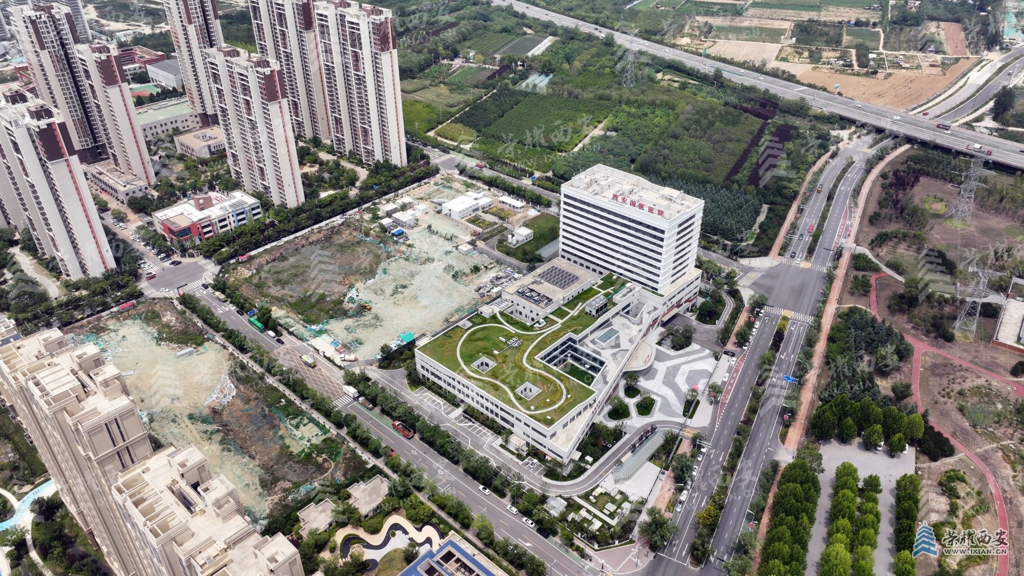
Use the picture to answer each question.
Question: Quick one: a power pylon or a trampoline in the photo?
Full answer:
The image shows a power pylon.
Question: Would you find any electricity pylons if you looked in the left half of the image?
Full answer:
No, in the left half of the image there is no electricity pylon.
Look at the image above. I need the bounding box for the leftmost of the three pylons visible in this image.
[624,30,637,80]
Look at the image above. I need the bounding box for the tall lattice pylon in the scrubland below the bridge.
[954,150,1004,231]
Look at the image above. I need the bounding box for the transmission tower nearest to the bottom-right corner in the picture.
[958,269,1001,340]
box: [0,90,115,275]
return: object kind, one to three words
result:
building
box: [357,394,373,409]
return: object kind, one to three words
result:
vehicle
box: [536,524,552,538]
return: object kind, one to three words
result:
car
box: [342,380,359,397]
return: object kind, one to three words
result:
vehicle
